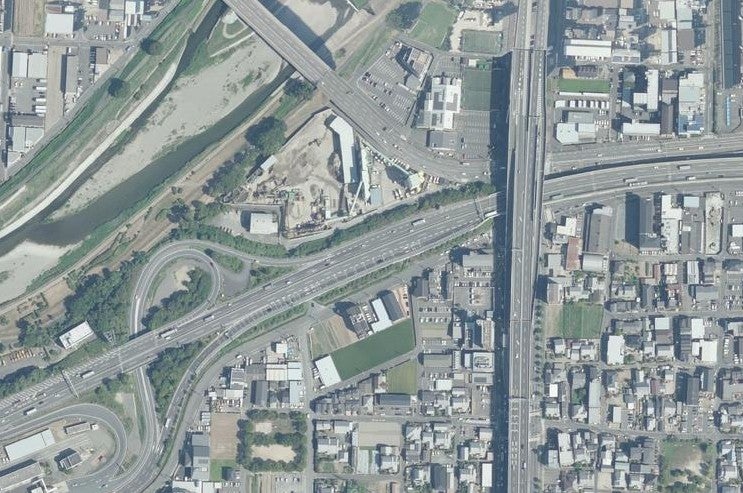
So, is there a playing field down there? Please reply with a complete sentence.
Yes, the frame does contain a playing field.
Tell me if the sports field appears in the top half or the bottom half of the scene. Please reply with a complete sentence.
It is in the bottom half that the sports field appears.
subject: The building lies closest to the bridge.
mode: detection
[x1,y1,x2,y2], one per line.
[330,116,353,183]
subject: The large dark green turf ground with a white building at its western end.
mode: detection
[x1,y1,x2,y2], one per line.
[332,319,415,381]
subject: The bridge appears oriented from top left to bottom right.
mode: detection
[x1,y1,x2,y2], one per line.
[222,0,348,94]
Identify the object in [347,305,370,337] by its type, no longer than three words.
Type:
building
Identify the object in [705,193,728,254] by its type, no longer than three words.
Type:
building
